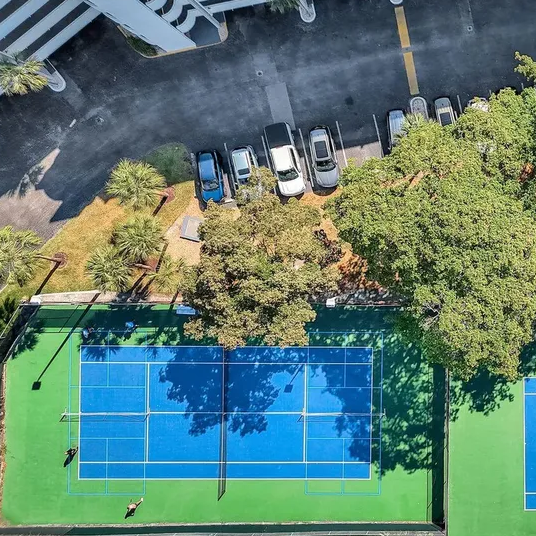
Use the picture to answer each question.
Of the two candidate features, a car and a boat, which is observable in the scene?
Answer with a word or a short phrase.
car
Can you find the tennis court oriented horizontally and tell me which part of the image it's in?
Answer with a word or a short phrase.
bottom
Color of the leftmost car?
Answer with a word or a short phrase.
blue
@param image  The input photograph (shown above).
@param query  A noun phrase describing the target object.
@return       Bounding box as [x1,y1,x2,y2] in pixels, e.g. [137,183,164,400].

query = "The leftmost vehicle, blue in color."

[195,151,227,204]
